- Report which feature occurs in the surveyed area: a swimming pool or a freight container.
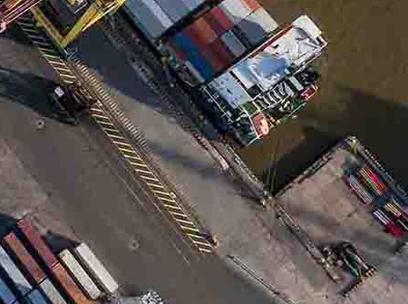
freight container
